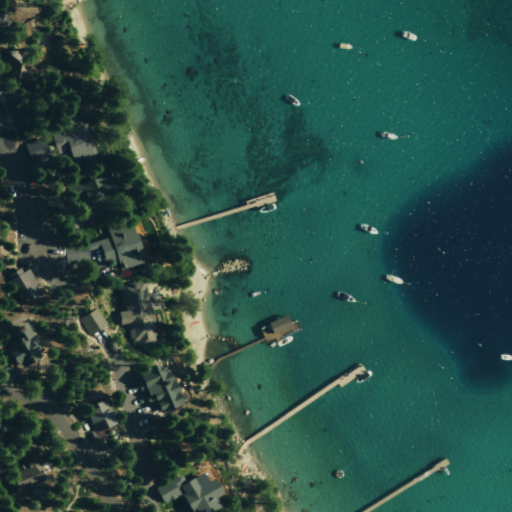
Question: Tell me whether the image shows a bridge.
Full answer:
No, I find no bridge anywhere in the image.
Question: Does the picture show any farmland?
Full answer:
No, farmland can't be seen anywhere here.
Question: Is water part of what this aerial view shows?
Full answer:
Yes, there is water in the image.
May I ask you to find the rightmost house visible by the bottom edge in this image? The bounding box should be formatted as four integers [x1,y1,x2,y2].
[179,462,232,512]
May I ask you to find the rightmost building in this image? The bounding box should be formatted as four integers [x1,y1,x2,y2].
[262,315,302,344]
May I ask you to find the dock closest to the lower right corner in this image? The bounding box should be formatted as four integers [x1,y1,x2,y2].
[359,458,450,512]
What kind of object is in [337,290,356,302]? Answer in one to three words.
boat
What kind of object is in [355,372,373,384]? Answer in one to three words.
boat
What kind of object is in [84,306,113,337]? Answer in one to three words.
building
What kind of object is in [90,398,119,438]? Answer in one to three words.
house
